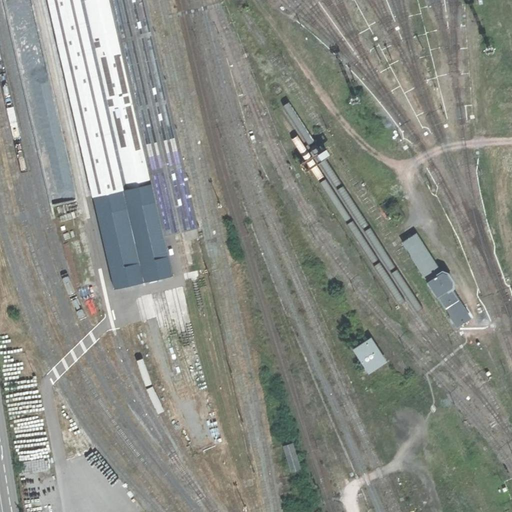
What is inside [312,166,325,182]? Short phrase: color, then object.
white rail car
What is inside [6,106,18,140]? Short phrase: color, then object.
white rail car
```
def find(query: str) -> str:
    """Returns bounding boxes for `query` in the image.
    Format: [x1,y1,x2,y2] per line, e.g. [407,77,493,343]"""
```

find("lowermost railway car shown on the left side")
[148,387,164,415]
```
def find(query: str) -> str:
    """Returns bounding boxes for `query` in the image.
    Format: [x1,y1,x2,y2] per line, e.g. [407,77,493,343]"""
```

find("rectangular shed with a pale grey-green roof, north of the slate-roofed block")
[403,233,438,278]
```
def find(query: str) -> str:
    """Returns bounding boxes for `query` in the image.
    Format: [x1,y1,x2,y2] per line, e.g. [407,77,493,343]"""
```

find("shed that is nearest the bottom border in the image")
[283,444,302,474]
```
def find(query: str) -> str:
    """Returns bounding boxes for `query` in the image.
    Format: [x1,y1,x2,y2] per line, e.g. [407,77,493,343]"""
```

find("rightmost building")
[428,272,472,328]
